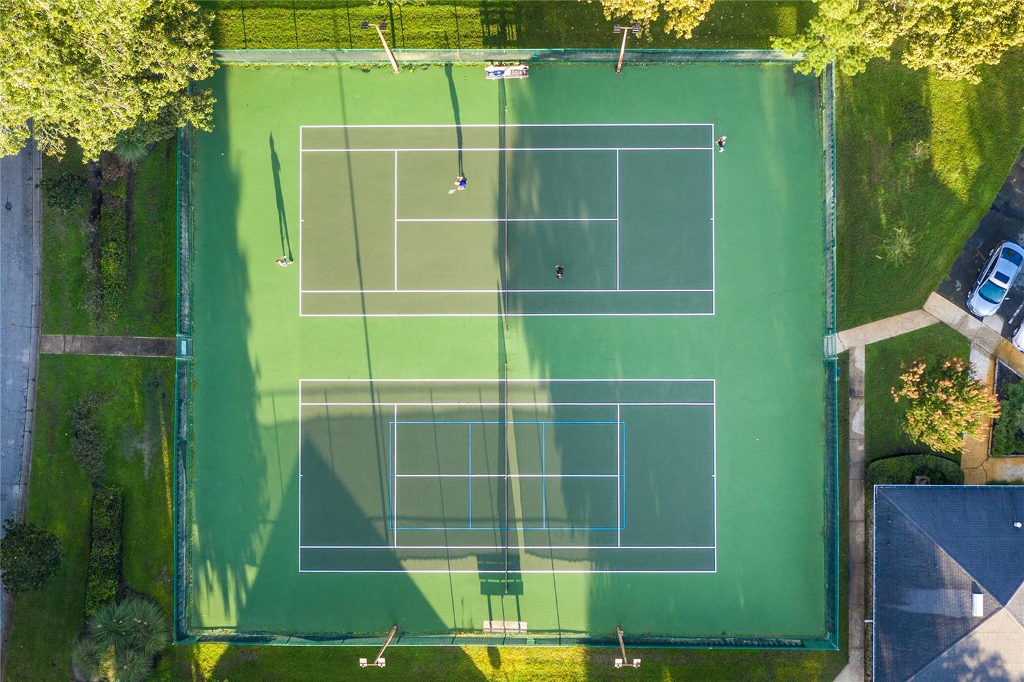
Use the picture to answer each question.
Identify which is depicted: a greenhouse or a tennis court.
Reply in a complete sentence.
This aerial view contains a tennis court.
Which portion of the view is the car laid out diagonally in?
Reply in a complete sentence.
The car laid out diagonally is located in the right region of the scene.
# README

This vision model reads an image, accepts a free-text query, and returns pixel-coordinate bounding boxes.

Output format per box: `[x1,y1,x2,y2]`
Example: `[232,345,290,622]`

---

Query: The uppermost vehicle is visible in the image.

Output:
[964,237,1024,317]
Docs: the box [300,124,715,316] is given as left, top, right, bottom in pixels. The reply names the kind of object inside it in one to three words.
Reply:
tennis court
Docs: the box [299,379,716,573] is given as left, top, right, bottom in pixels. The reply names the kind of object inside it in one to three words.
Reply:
tennis court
